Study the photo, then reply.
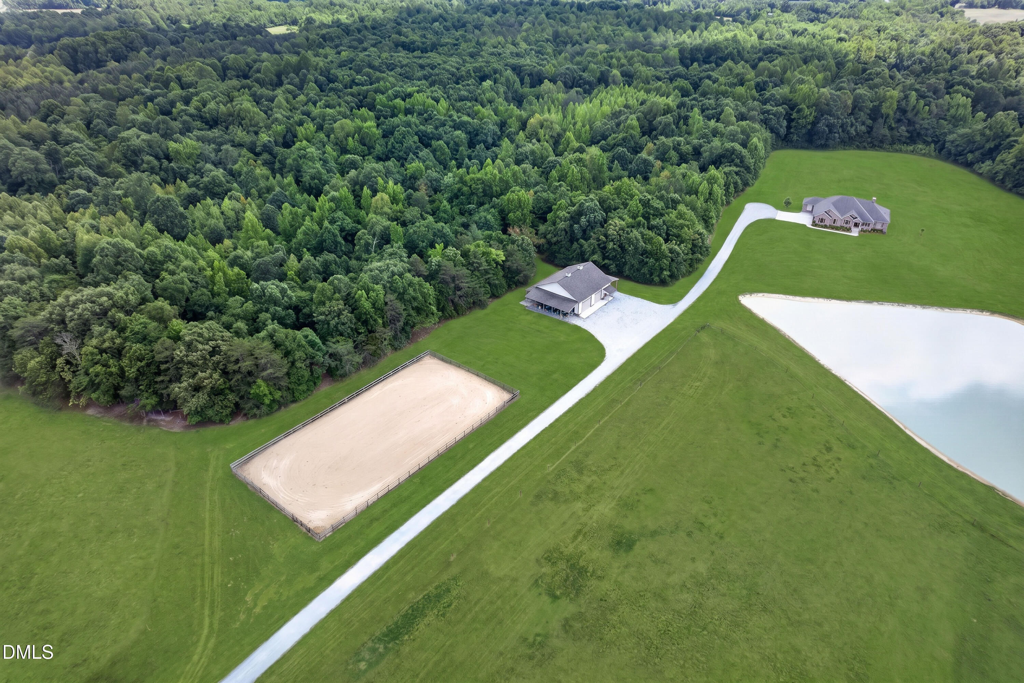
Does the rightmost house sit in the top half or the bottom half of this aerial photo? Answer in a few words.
top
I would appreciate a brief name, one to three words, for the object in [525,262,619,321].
barn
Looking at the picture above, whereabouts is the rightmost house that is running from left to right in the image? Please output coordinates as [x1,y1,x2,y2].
[802,196,891,233]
